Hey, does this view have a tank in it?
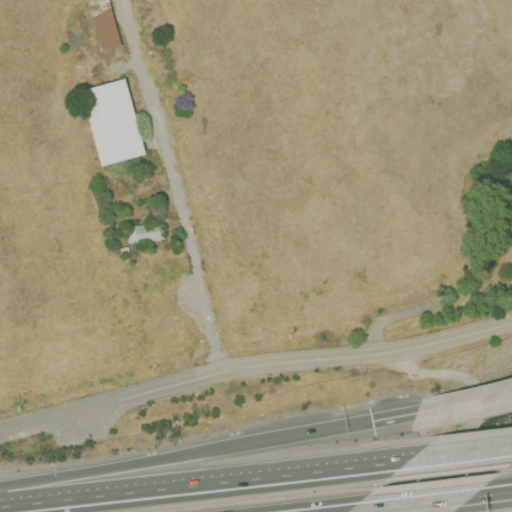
No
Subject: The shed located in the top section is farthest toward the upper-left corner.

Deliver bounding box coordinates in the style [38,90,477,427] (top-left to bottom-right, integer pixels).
[89,0,122,50]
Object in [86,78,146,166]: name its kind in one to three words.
barn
